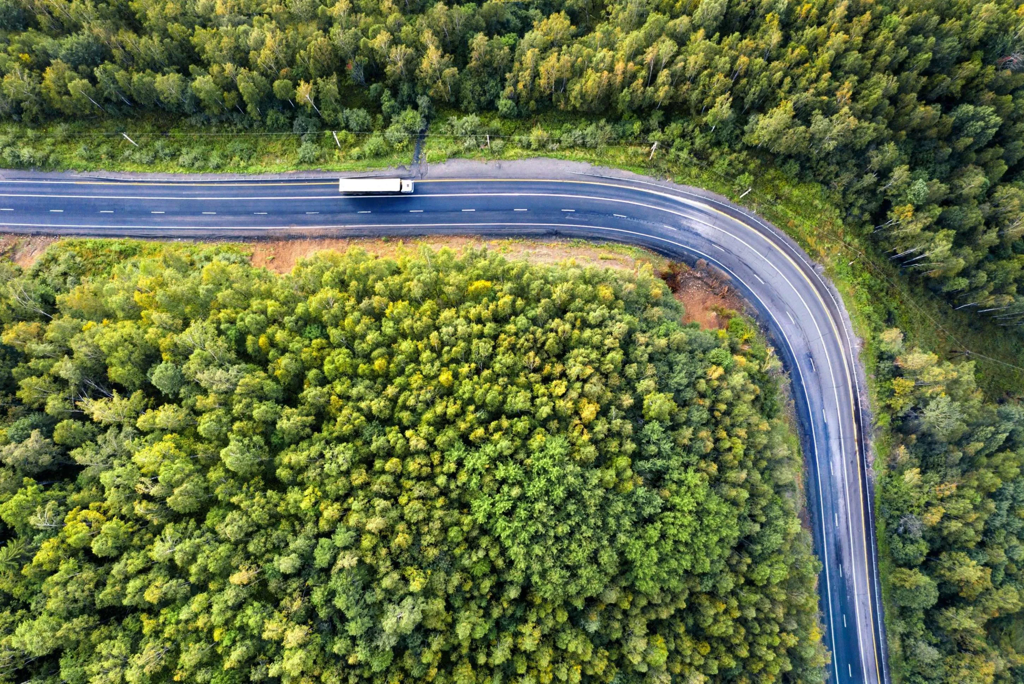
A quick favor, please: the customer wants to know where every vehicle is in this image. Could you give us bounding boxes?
[340,179,415,196]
